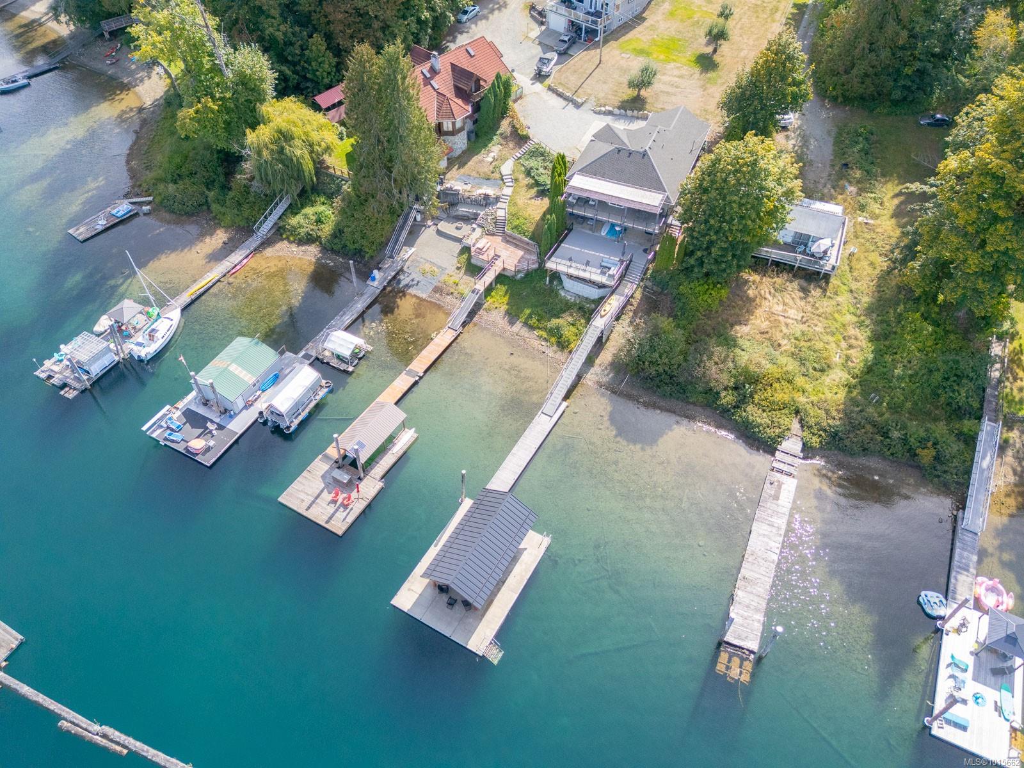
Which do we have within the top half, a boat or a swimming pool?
boat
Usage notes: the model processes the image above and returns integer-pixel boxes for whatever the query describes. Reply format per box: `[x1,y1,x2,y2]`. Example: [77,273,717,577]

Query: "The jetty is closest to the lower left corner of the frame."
[0,621,25,666]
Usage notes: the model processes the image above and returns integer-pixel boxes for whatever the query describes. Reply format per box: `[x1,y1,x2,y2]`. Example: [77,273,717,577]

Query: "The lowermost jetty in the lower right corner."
[920,603,1024,767]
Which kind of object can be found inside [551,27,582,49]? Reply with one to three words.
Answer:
truck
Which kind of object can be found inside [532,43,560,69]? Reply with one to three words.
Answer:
boat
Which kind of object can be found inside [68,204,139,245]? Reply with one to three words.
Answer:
pier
